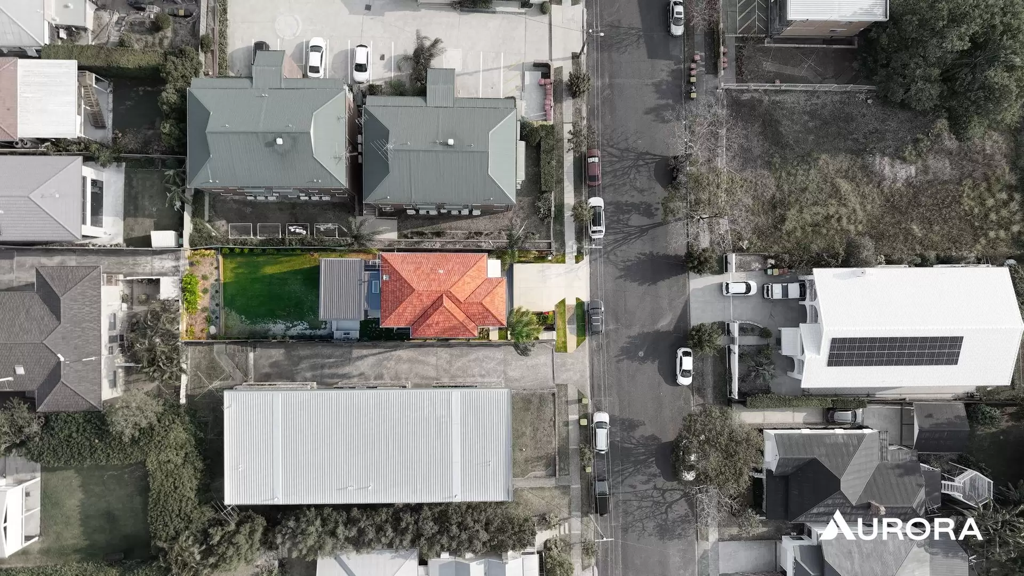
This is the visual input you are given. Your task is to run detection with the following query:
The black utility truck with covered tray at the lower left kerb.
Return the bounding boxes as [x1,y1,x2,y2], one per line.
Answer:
[592,473,612,518]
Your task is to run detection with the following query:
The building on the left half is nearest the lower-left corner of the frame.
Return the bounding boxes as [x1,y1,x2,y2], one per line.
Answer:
[0,474,50,557]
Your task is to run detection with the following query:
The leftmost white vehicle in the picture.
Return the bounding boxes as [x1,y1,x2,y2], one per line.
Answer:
[306,38,327,79]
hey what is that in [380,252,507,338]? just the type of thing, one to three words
house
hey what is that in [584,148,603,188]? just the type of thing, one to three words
car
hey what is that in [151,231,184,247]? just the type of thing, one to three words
shed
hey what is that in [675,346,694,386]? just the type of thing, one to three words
car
